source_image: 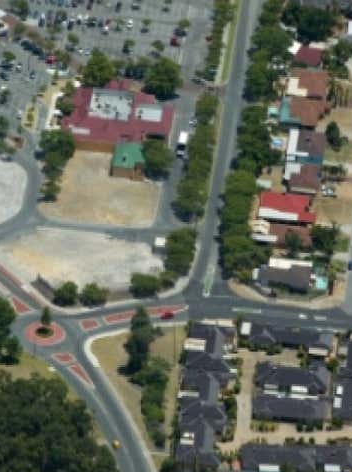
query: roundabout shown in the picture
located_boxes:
[11,311,80,355]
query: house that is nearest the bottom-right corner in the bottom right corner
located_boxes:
[314,443,352,472]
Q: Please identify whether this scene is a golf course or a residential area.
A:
residential area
